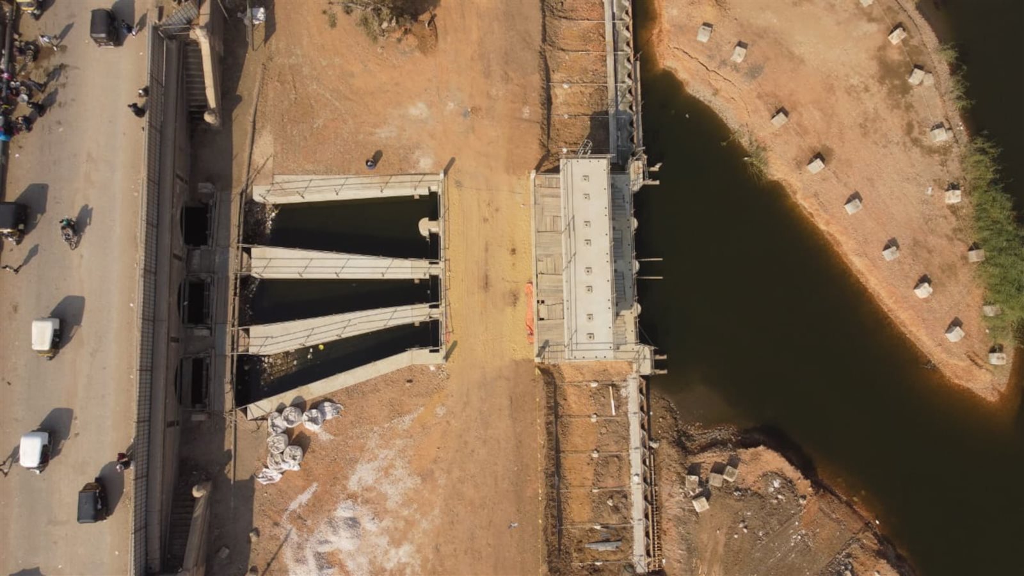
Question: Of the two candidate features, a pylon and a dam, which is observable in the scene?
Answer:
dam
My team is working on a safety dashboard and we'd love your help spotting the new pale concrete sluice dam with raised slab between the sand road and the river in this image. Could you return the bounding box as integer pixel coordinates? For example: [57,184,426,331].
[532,146,656,375]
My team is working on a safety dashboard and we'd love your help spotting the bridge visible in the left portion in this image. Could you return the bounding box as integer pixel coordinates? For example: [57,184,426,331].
[0,0,192,576]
